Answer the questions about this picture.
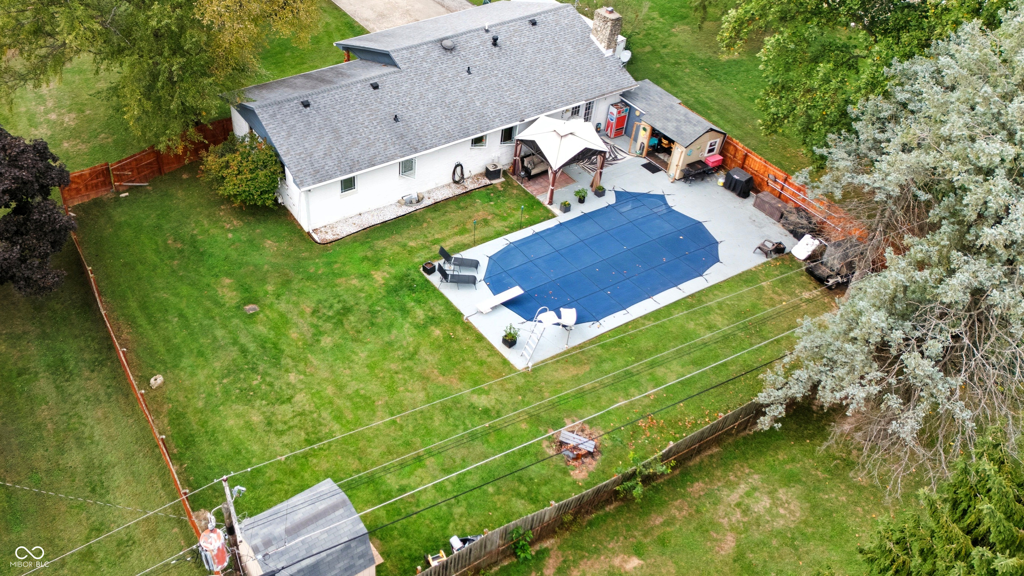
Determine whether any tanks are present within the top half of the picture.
No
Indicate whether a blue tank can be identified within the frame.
No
